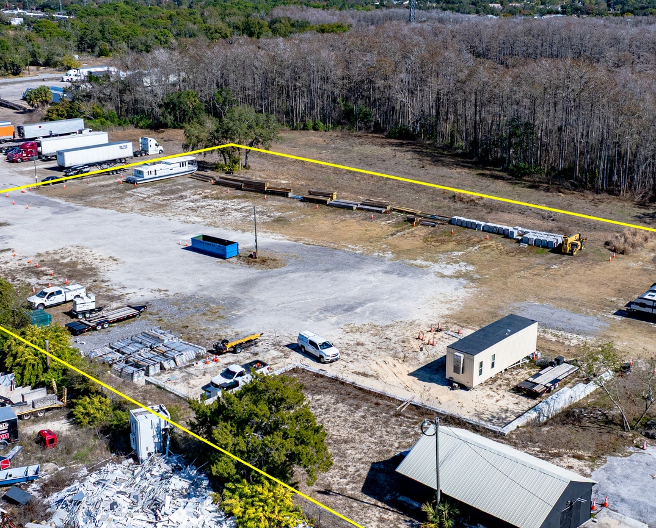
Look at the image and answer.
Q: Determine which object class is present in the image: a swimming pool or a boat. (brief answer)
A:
boat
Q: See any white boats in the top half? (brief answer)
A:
Yes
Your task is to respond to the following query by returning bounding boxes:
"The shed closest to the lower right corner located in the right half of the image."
[400,424,593,528]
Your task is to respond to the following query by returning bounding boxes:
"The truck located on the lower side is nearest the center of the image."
[298,331,340,364]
